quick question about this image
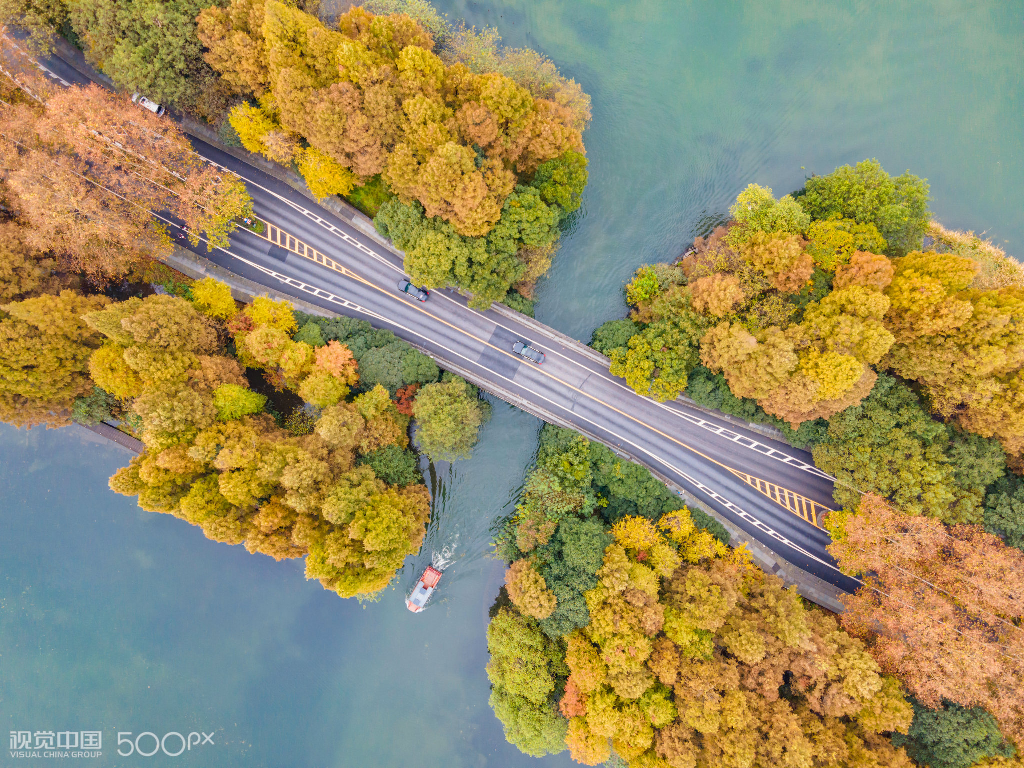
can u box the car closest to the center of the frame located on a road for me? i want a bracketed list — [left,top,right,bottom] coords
[512,340,547,365]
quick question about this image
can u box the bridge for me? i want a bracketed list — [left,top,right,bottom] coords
[436,298,619,459]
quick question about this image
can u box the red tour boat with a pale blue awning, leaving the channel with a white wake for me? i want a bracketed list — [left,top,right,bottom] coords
[409,567,442,614]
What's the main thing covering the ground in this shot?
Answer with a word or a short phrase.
trees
